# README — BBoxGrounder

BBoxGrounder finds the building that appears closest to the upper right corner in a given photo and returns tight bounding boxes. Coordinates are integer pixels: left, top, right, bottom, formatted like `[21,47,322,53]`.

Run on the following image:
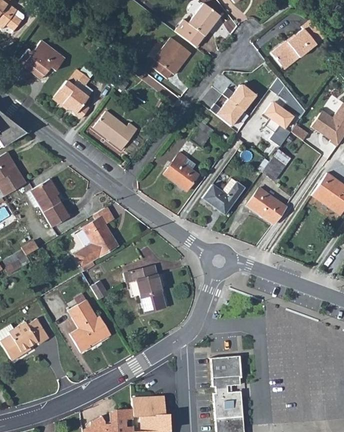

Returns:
[269,23,318,68]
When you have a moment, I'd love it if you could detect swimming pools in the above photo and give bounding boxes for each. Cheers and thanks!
[0,205,12,224]
[241,150,254,162]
